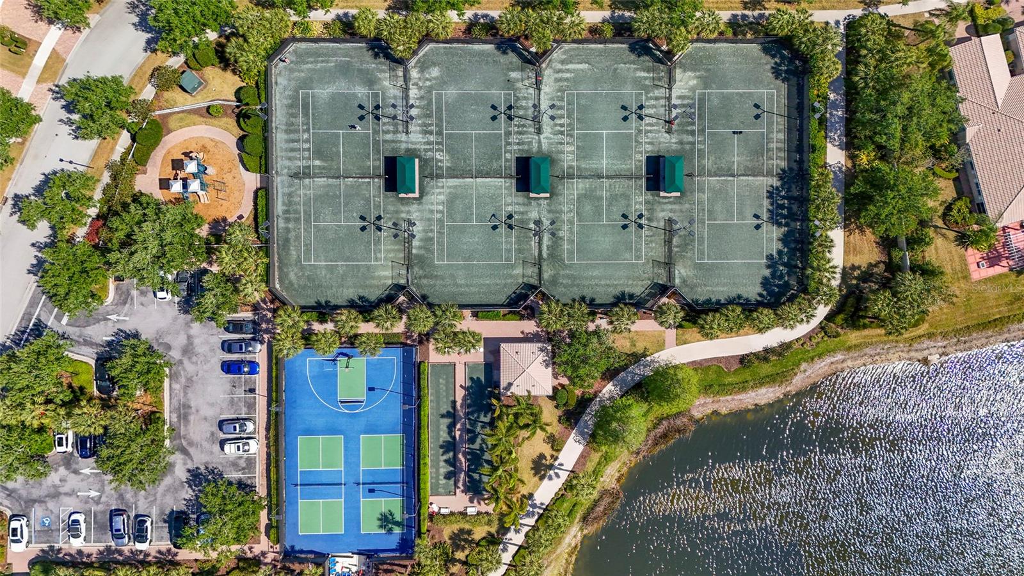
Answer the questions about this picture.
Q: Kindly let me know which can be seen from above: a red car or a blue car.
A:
blue car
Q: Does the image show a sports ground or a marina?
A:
sports ground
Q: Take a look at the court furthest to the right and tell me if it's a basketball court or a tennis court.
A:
tennis court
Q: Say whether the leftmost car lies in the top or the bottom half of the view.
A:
bottom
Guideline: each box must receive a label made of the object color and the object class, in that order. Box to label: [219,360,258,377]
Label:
blue car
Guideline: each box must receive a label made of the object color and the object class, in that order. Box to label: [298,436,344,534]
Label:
green sports court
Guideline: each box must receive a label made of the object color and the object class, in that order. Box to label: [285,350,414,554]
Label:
blue basketball court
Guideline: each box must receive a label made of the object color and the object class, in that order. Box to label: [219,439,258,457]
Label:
white car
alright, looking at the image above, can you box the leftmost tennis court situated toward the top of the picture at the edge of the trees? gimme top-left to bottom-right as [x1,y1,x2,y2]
[275,43,408,308]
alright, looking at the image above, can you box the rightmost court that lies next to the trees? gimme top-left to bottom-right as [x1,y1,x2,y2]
[671,44,800,309]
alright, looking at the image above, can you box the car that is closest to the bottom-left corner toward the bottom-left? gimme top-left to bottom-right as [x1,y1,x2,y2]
[7,514,29,551]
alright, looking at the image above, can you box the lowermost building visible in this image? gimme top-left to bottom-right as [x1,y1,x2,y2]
[500,341,553,396]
